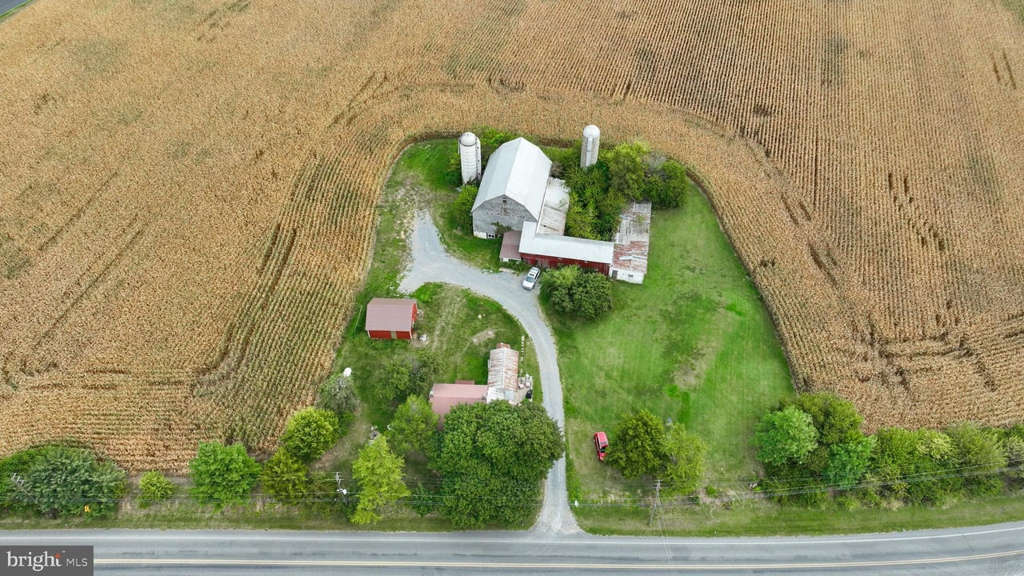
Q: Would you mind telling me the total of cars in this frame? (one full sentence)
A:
The count of cars comes to 2.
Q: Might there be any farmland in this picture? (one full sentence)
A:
Yes, farmland can be seen from above here.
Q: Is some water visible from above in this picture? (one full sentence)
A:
No, water can't be seen anywhere here.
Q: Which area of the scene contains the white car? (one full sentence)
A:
Look in the center portion of the view to spot the white car.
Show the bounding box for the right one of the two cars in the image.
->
[593,433,613,464]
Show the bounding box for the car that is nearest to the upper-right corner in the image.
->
[520,267,541,291]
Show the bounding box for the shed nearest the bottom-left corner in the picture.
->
[365,299,421,339]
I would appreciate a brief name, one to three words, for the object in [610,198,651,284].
shed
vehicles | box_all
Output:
[520,267,541,291]
[593,433,613,464]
